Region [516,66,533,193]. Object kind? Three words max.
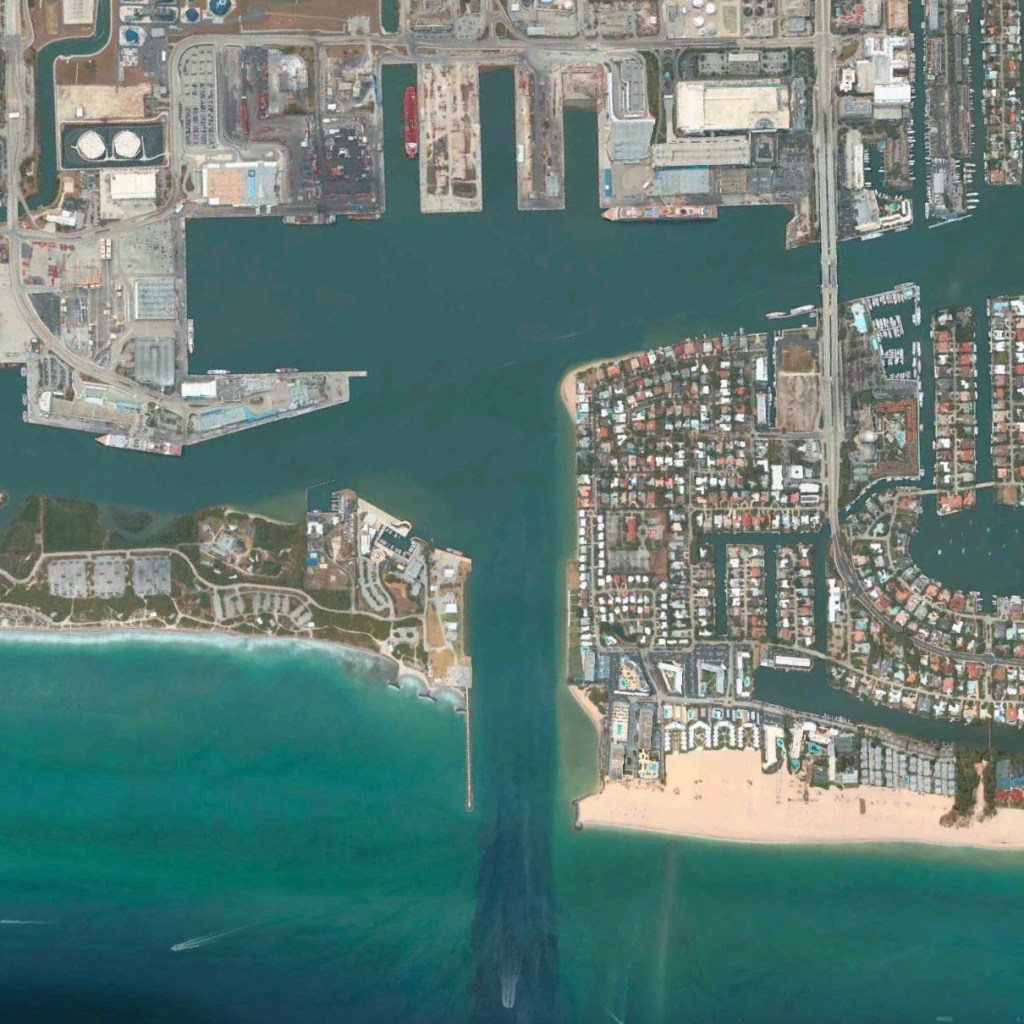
pier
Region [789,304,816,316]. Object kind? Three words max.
boat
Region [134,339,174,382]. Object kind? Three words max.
shed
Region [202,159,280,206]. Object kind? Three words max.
building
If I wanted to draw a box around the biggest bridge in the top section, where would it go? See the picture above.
[818,62,841,532]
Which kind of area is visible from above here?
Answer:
port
